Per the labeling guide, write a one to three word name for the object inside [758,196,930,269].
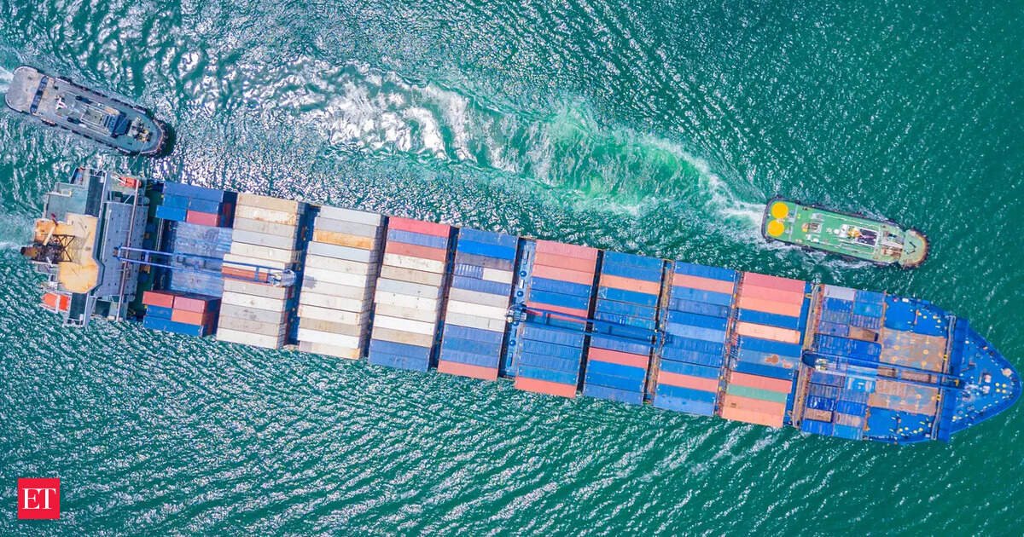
boat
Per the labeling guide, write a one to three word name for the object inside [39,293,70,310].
boat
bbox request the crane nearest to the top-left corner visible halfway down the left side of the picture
[117,245,309,286]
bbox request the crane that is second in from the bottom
[505,301,669,341]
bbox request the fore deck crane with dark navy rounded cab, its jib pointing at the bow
[794,349,984,391]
